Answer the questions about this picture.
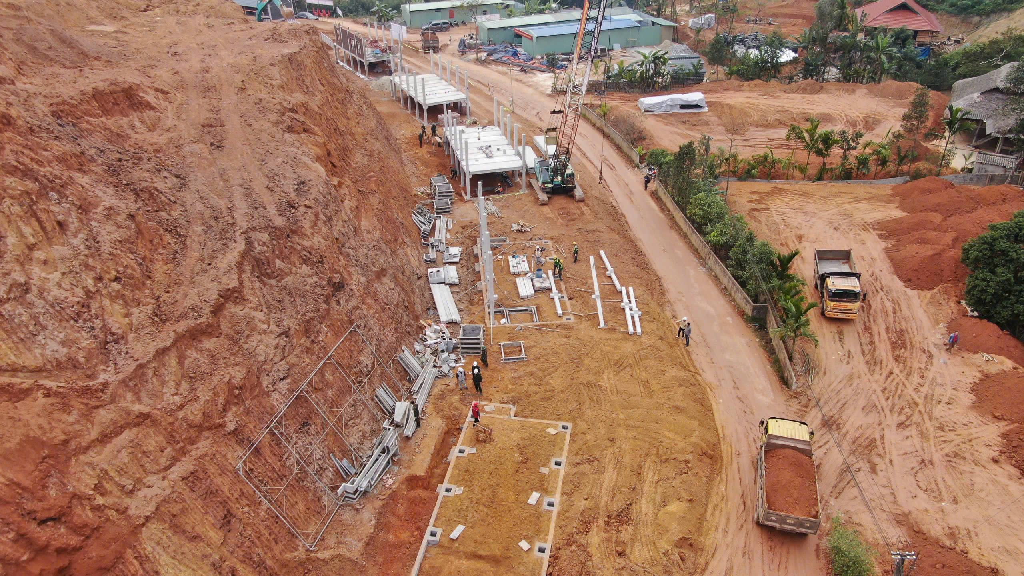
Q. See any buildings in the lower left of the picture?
No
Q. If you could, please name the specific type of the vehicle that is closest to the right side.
truck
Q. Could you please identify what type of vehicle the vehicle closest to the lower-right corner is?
truck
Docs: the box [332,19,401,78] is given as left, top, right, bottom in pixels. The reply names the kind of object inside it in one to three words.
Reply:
house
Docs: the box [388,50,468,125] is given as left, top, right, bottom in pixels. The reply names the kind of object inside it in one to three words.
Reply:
house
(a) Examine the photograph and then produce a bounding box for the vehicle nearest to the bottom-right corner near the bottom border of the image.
[751,403,821,551]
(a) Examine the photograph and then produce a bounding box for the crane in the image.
[526,0,618,203]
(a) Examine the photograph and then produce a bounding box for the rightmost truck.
[811,246,869,323]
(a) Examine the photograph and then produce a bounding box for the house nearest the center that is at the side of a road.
[443,98,526,199]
